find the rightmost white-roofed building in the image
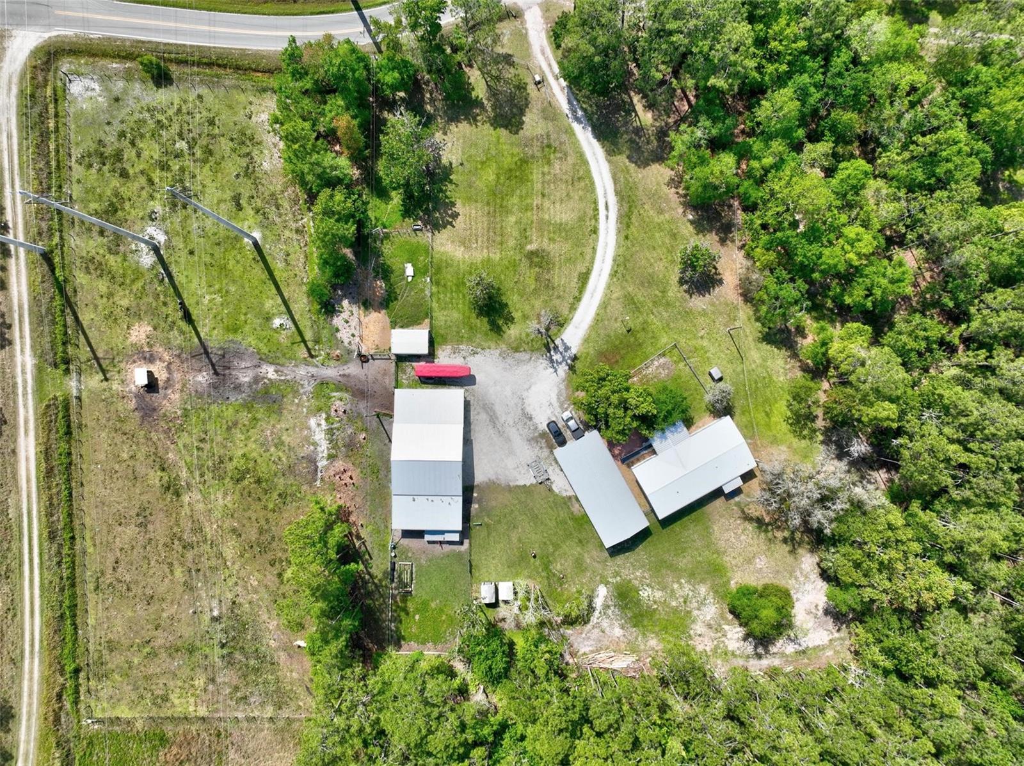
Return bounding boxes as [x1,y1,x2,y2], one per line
[629,414,753,517]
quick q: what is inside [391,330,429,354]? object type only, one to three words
shed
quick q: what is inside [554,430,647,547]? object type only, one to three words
building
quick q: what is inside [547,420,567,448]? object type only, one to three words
car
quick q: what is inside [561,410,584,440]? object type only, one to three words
truck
